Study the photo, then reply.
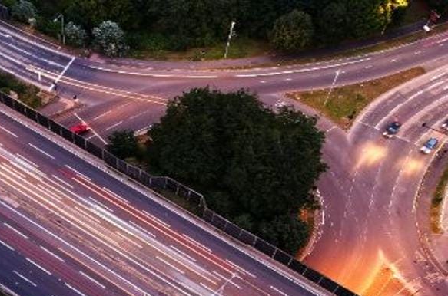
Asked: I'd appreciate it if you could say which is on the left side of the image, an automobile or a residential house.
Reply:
automobile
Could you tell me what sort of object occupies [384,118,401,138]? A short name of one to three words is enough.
car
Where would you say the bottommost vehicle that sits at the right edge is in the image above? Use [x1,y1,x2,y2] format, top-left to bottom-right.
[421,136,439,154]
